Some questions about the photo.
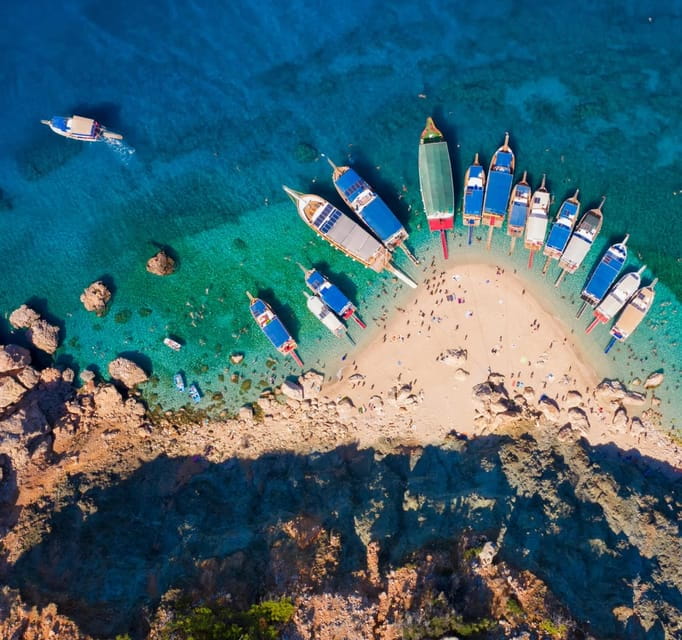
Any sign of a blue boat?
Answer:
Yes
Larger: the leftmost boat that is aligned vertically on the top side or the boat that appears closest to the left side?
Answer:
the leftmost boat that is aligned vertically on the top side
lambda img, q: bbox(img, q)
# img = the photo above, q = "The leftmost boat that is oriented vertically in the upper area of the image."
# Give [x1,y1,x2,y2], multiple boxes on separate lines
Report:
[419,118,455,259]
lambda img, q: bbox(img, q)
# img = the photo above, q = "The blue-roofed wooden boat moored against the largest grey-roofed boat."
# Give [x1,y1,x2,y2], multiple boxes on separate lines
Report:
[329,157,415,262]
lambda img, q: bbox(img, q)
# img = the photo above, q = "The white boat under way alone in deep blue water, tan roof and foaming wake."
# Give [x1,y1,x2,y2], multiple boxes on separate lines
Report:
[40,117,122,145]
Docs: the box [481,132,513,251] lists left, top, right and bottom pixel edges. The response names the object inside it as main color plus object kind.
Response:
blue boat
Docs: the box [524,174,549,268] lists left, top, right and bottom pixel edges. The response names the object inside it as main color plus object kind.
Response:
white boat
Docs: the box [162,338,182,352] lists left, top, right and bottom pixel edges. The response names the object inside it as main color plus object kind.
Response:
white boat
